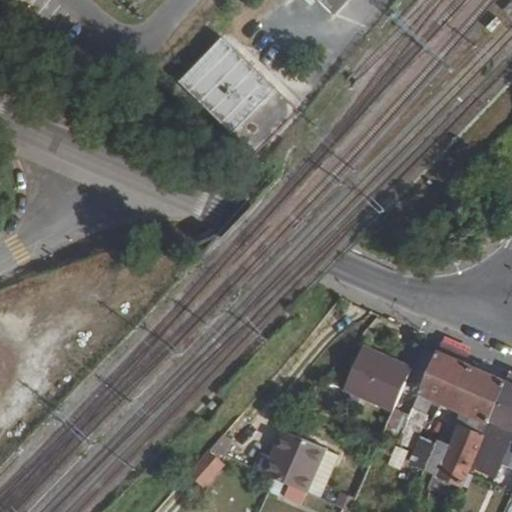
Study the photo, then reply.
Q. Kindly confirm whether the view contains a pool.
No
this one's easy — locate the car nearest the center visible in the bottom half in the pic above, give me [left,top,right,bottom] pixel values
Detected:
[336,316,352,331]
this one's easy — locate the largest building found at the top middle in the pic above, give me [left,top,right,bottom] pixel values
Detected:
[179,38,275,130]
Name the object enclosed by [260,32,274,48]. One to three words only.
car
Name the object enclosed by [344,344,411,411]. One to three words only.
house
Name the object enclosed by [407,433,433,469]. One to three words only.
shed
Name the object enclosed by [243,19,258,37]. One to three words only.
car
